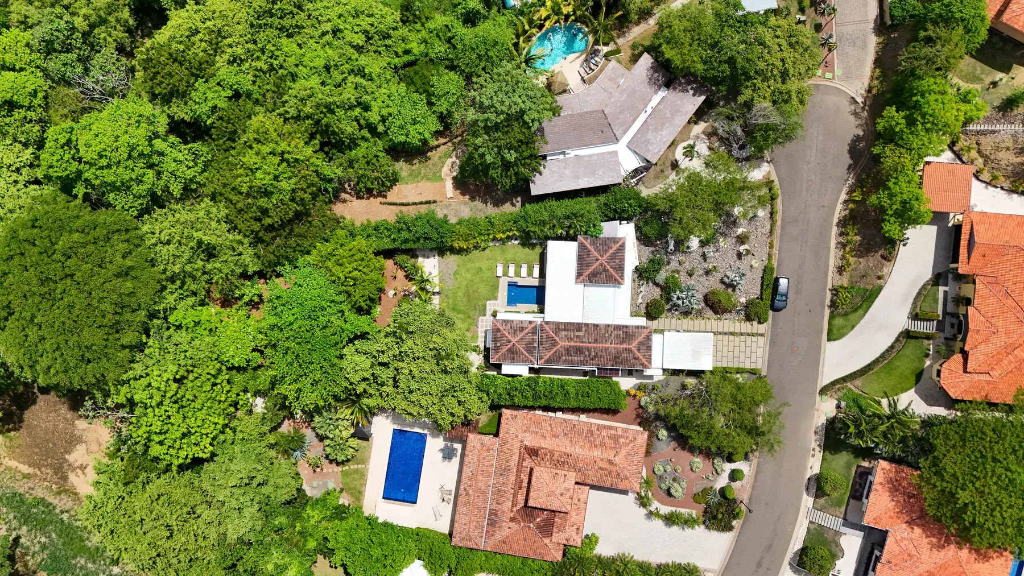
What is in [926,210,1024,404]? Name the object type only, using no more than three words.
house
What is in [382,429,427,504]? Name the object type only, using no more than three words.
swimming pool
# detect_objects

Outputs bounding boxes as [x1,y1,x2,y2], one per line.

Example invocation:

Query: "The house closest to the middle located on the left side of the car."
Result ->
[486,220,663,376]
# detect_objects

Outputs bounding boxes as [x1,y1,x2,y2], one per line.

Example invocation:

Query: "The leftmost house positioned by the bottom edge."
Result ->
[446,409,648,562]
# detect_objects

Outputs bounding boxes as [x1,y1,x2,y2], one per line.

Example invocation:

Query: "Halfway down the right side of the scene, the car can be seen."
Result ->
[773,277,791,311]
